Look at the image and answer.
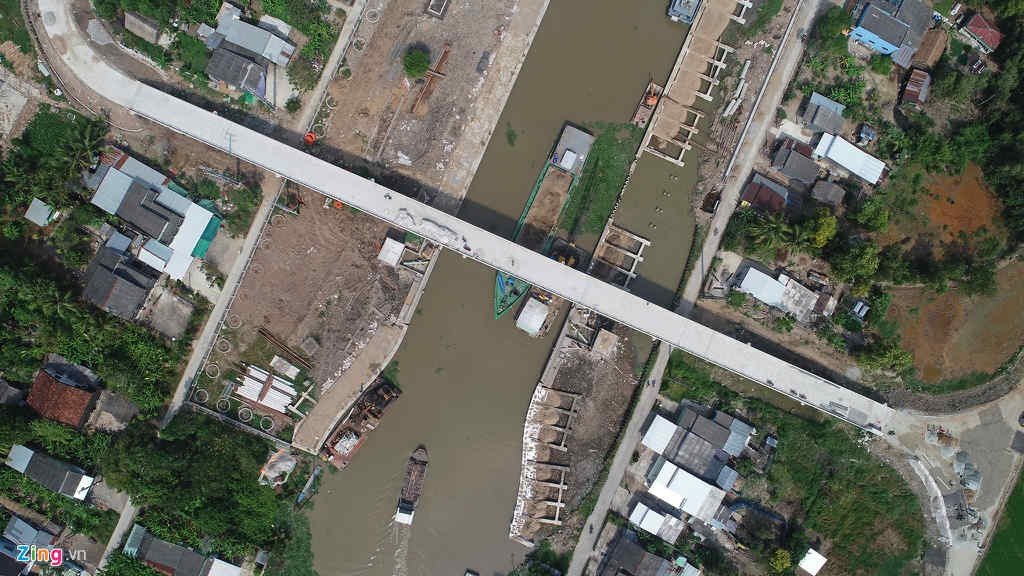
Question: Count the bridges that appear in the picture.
one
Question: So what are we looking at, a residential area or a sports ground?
residential area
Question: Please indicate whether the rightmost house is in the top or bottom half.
top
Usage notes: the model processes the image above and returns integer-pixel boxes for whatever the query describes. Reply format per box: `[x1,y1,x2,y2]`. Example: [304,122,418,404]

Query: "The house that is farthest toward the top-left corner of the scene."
[121,12,166,46]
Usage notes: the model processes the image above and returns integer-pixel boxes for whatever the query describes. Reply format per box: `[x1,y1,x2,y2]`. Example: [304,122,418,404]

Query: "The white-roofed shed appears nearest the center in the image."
[377,238,406,266]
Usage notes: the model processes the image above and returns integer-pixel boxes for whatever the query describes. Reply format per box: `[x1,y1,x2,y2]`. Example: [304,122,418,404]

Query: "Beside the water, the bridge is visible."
[123,80,894,435]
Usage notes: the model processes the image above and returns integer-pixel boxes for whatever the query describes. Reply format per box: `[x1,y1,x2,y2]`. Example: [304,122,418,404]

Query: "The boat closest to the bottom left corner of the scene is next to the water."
[298,466,320,503]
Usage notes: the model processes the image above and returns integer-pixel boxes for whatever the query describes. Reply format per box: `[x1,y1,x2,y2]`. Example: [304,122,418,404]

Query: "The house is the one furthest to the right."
[958,14,1003,56]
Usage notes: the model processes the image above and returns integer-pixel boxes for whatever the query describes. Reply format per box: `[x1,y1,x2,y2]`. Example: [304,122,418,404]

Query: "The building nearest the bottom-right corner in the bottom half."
[801,546,827,575]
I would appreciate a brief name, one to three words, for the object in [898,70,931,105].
shed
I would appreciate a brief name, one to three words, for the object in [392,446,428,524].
boat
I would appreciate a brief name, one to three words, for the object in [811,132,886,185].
house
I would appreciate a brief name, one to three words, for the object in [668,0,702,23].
boat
